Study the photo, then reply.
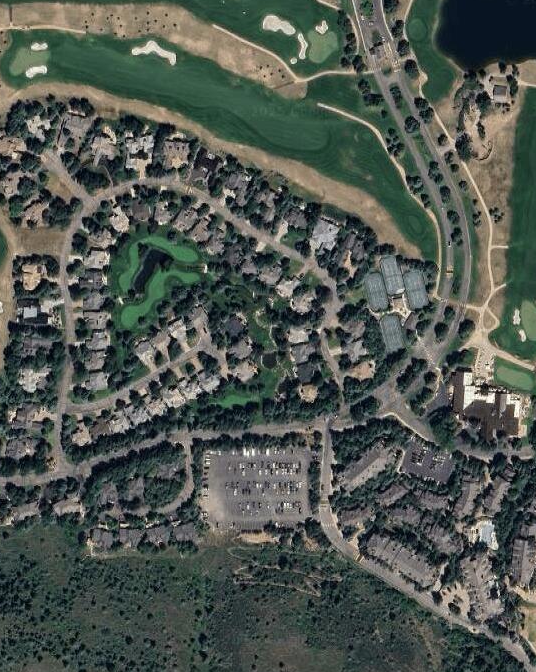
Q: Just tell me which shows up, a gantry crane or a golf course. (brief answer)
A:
golf course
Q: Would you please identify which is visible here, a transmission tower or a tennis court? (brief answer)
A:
tennis court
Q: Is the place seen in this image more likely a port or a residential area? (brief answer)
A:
residential area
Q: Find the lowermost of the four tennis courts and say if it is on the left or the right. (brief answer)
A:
right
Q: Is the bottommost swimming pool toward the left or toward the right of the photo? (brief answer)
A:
right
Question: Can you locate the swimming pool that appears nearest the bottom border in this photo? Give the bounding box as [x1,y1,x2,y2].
[470,520,499,551]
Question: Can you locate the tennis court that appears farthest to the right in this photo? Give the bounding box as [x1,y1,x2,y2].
[402,270,430,312]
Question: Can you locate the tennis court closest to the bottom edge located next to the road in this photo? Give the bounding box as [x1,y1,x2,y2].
[379,314,405,355]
